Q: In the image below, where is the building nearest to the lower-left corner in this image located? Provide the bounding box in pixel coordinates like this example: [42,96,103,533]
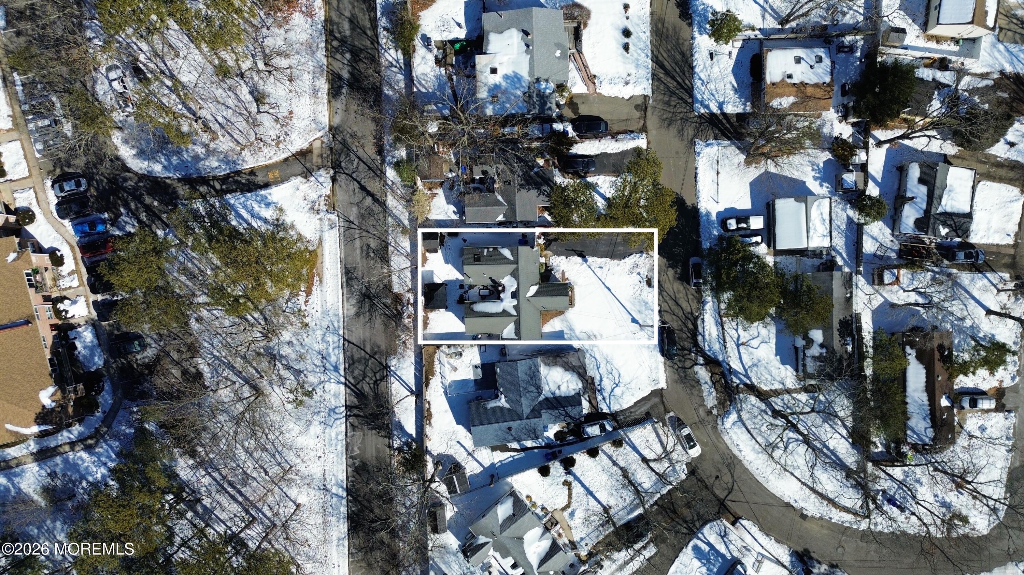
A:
[0,235,88,444]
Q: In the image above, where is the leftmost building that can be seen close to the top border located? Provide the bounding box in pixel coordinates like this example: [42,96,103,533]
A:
[476,7,569,121]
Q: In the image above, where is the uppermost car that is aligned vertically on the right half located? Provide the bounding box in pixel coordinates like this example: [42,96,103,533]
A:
[688,255,705,290]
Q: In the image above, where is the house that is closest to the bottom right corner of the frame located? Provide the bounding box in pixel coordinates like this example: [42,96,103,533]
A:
[892,331,955,445]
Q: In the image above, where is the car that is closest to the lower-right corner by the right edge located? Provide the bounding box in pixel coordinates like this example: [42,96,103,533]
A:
[959,395,998,412]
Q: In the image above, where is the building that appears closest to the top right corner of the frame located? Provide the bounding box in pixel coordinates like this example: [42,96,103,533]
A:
[927,0,996,39]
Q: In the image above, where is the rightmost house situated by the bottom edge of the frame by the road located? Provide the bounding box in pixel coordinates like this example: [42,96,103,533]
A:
[462,487,571,575]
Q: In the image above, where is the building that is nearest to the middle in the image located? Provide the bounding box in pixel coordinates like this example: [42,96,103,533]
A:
[463,246,568,340]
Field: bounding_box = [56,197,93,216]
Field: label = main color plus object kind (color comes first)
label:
black car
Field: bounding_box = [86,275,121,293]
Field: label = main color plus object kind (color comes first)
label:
black car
